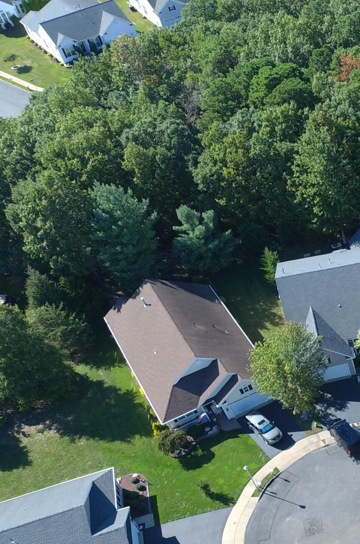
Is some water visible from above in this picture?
No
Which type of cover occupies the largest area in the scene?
trees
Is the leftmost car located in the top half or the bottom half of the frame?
bottom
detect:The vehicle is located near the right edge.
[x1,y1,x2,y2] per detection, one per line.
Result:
[327,419,360,455]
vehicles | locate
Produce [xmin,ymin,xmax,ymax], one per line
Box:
[246,412,281,444]
[327,419,360,455]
